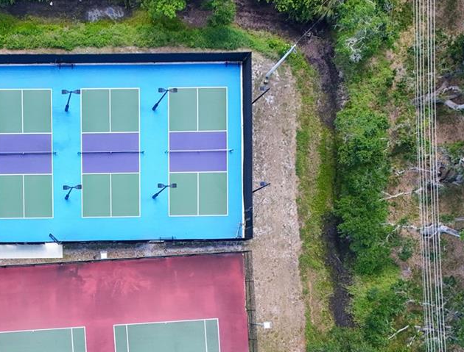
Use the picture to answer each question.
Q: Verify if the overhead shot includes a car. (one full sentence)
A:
No, I can't see a single car in this photo.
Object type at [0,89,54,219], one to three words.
sports court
